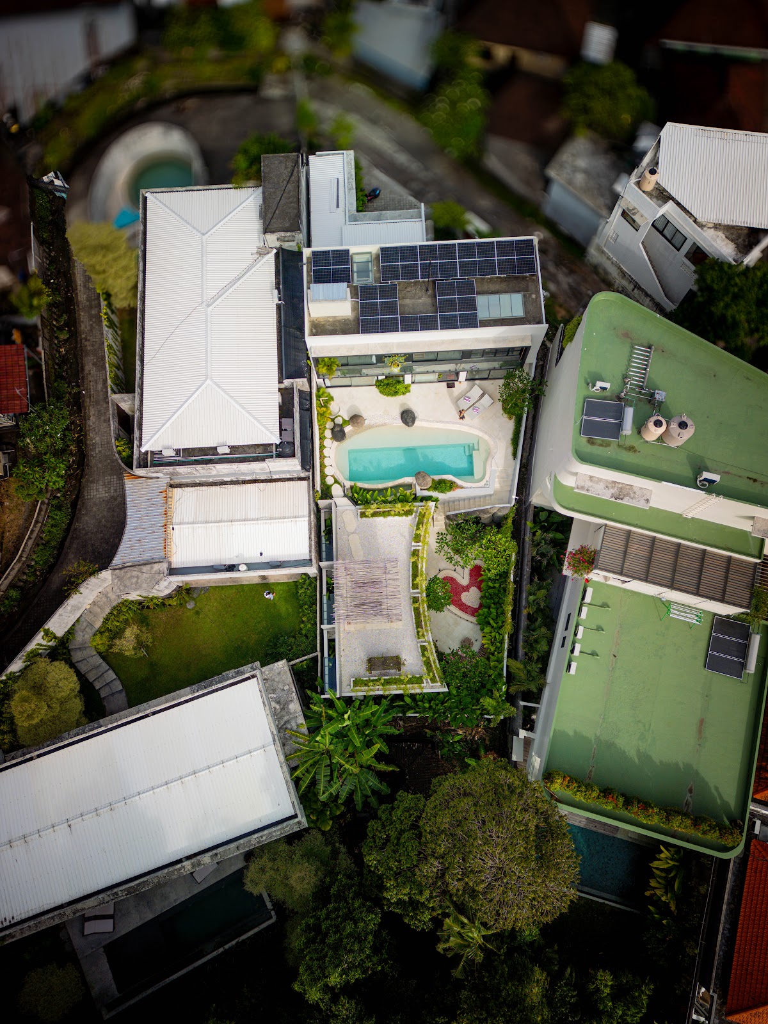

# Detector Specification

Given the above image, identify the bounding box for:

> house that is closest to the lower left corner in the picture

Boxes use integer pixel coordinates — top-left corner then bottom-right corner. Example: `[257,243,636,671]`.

[0,660,311,943]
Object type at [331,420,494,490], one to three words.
swimming pool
